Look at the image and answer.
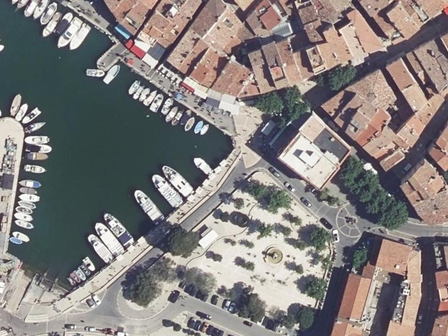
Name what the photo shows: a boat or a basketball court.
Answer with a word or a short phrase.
boat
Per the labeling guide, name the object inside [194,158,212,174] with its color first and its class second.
white boat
